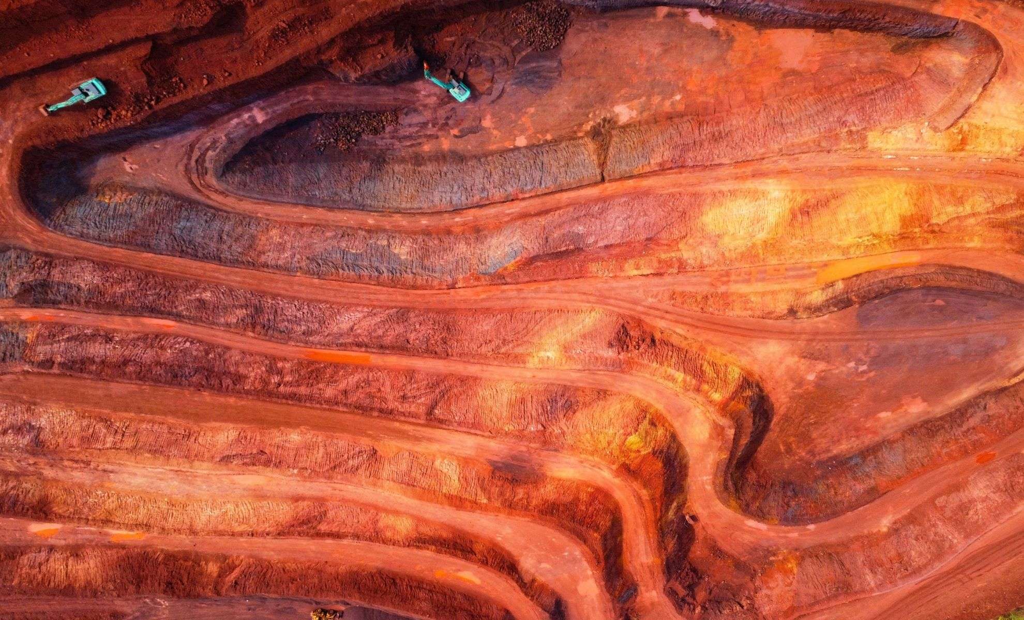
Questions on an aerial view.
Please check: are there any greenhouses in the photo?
No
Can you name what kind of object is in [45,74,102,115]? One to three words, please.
work vehicle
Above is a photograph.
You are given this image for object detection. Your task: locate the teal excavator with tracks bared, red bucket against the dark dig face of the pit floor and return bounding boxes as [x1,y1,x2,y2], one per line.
[424,58,470,100]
